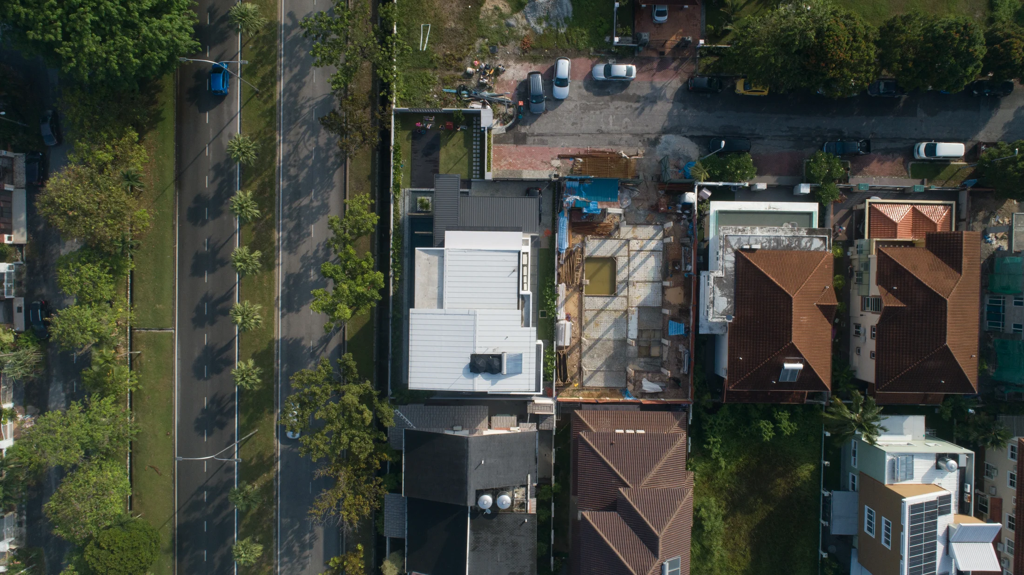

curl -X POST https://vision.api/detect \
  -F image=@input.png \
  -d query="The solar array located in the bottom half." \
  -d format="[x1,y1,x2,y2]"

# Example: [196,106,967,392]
[910,501,950,575]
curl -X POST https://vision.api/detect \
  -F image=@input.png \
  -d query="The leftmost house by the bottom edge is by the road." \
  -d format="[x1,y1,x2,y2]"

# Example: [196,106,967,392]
[384,399,554,575]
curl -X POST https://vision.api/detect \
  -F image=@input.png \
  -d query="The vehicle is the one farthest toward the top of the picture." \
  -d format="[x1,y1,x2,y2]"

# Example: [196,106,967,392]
[650,6,671,30]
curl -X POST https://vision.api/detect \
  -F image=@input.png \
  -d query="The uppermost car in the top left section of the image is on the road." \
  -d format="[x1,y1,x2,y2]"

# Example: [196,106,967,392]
[209,63,231,98]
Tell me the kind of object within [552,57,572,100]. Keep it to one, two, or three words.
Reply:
car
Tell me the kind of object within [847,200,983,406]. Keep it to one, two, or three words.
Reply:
house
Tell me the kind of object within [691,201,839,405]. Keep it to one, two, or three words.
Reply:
house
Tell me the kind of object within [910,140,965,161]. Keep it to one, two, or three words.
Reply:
vehicle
